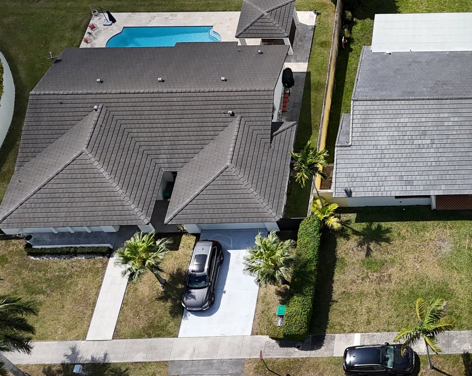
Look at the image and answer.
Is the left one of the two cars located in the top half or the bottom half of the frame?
bottom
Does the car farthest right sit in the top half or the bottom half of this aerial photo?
bottom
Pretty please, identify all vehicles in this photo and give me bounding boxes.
[180,239,225,311]
[341,342,417,376]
